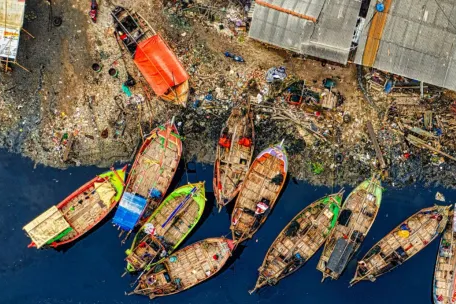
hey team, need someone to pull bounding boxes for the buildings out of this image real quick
[354,0,456,97]
[248,0,363,66]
